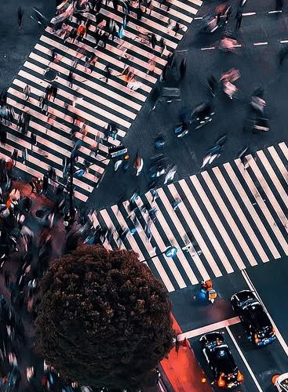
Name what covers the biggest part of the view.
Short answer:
paved ground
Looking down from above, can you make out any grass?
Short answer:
No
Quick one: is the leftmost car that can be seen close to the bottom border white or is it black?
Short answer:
black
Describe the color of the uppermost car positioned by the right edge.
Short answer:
black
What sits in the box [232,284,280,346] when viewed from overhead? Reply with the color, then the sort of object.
black car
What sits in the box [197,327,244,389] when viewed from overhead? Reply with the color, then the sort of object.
black car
